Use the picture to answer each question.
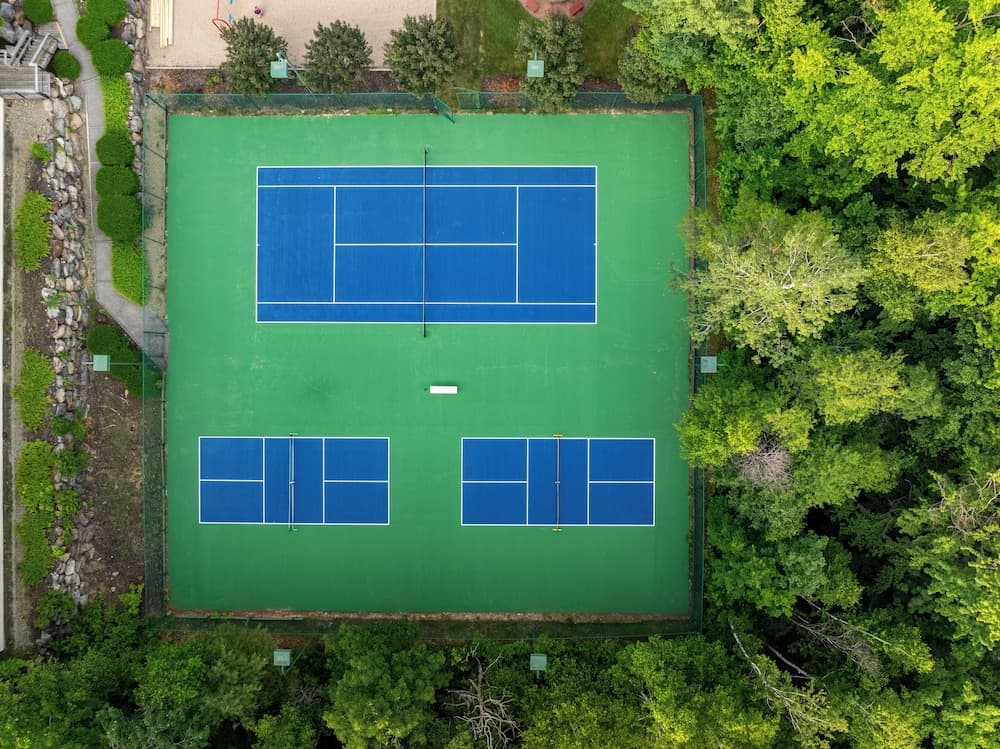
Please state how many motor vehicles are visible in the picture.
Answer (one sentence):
There are no motor vehicles in the image.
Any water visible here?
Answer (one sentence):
No, the picture contains no water.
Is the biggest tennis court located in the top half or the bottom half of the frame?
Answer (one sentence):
The biggest tennis court is in the top half of the image.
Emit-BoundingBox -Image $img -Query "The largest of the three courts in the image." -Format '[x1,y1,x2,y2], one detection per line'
[256,165,598,324]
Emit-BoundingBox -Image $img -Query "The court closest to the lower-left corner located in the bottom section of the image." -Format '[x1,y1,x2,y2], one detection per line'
[198,437,390,525]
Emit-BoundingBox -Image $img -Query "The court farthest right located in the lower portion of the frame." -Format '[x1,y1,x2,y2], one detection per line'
[461,437,655,526]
